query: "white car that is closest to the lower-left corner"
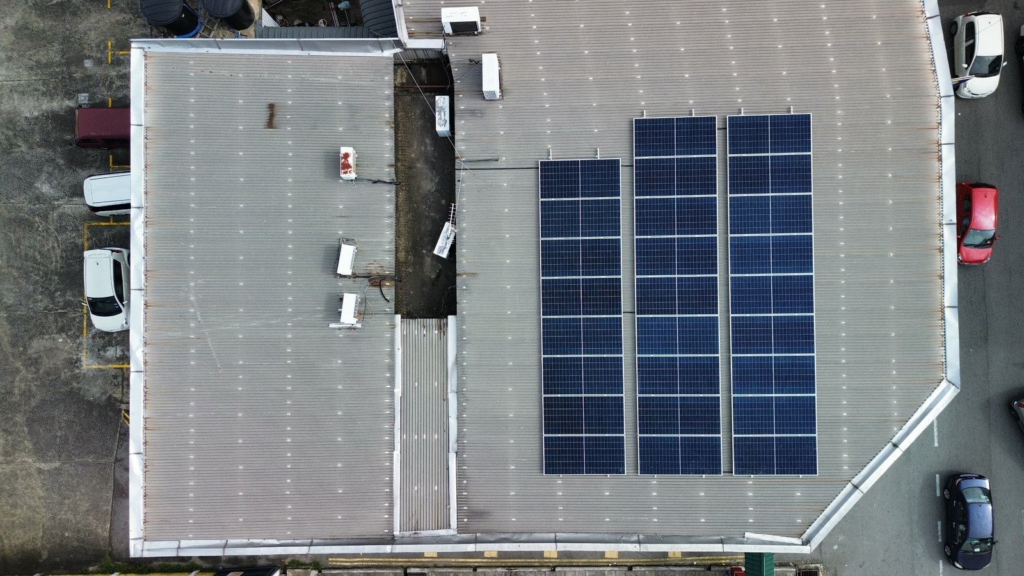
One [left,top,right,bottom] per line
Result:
[82,249,131,332]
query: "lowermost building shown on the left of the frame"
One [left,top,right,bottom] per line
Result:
[130,39,408,556]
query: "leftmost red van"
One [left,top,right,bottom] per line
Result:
[75,108,131,151]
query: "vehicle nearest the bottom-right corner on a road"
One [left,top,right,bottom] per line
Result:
[943,471,1000,571]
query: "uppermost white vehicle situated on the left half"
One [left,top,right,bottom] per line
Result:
[83,170,131,217]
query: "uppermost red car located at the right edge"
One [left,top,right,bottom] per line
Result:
[955,183,996,265]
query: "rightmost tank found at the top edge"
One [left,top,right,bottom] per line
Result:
[199,0,255,29]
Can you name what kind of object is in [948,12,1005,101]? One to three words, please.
car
